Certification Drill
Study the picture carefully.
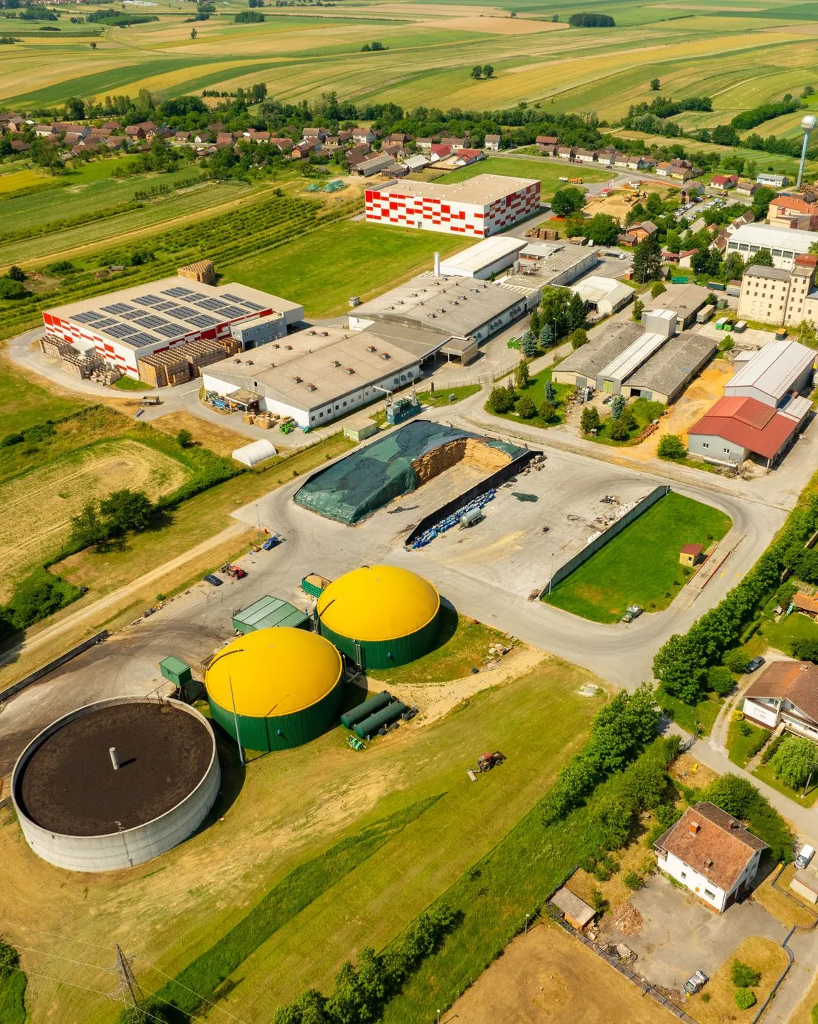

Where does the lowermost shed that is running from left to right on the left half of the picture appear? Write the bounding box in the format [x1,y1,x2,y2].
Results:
[231,594,312,634]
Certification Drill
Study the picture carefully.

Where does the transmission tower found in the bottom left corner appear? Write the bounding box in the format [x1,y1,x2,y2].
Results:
[96,944,143,1019]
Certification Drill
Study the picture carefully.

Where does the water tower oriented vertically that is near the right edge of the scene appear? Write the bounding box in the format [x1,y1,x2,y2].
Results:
[795,115,818,187]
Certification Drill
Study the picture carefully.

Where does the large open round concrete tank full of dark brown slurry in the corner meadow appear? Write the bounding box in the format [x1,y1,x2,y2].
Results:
[11,671,220,871]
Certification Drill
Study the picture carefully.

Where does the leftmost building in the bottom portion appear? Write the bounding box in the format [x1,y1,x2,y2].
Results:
[160,655,199,702]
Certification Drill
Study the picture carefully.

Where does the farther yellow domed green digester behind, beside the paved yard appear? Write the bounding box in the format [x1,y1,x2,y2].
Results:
[315,566,441,668]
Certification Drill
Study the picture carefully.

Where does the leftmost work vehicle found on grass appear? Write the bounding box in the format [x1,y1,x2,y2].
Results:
[458,748,506,770]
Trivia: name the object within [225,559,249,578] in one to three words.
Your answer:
work vehicle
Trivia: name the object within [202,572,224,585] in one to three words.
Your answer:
vehicle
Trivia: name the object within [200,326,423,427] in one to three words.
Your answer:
building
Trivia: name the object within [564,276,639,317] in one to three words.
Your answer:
house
